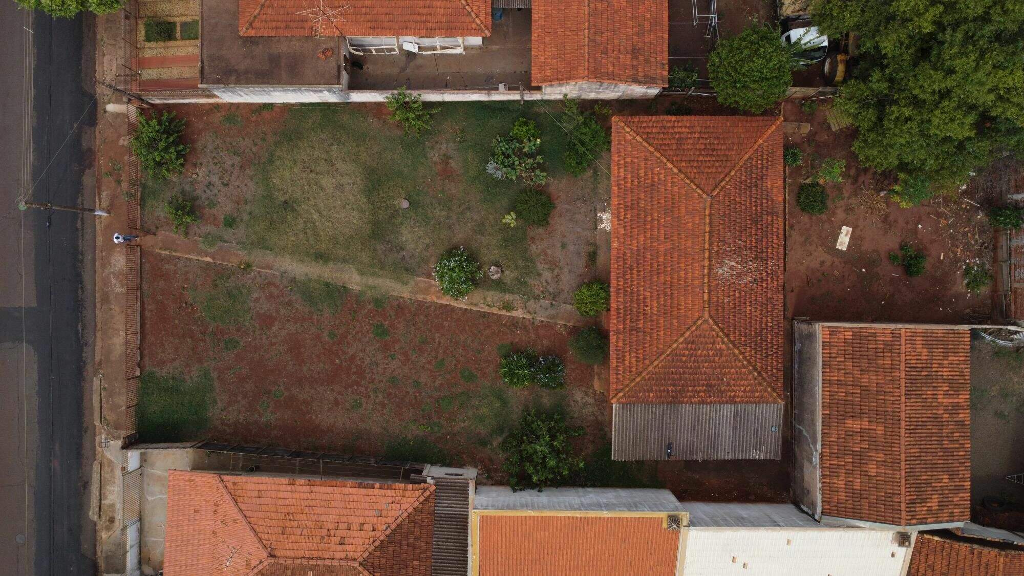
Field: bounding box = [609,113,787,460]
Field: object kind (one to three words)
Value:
house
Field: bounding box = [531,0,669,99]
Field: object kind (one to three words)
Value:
shed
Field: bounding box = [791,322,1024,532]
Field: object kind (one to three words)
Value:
house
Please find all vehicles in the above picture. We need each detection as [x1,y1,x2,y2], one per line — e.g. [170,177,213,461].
[762,0,825,72]
[821,30,877,87]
